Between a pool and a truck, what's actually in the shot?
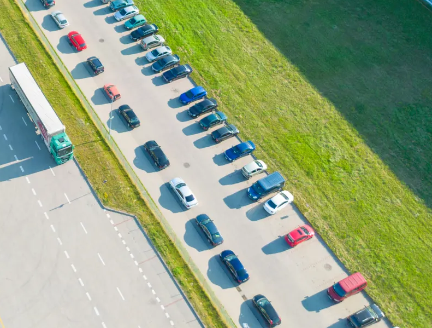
truck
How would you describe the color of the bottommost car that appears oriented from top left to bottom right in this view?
blue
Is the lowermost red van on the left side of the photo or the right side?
right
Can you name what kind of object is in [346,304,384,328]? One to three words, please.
car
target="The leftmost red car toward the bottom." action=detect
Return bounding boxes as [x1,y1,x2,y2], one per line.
[284,225,315,248]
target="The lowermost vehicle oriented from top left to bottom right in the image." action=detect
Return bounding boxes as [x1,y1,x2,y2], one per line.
[251,294,283,328]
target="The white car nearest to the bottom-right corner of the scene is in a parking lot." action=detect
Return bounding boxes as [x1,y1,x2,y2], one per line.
[260,192,295,215]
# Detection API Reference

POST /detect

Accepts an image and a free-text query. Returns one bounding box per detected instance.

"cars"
[194,215,225,249]
[114,6,139,22]
[223,141,257,163]
[67,33,87,52]
[144,141,171,170]
[197,112,228,131]
[116,105,142,131]
[251,294,283,328]
[102,84,122,104]
[129,25,159,42]
[41,0,57,11]
[260,192,295,215]
[50,11,70,31]
[208,124,240,144]
[187,99,219,120]
[170,178,197,210]
[162,65,192,83]
[346,304,384,328]
[124,15,146,30]
[219,250,252,286]
[85,56,107,78]
[179,87,207,106]
[138,35,165,52]
[110,0,133,13]
[150,56,181,74]
[145,46,172,63]
[237,159,269,181]
[284,225,315,248]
